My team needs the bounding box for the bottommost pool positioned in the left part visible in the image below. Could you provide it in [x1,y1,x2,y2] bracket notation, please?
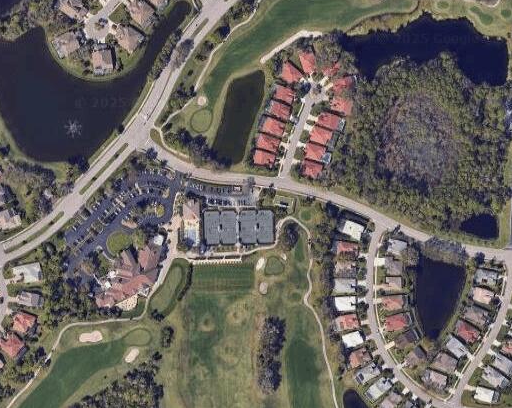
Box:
[184,220,199,247]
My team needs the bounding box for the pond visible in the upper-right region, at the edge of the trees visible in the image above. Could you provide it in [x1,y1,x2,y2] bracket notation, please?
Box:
[343,13,510,87]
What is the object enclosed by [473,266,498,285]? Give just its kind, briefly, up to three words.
house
